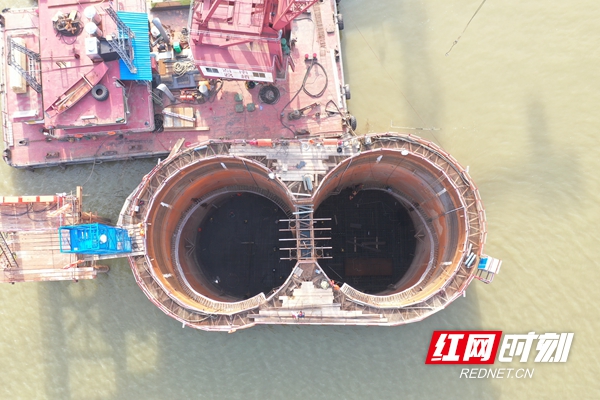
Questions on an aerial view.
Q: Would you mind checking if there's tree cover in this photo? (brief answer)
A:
No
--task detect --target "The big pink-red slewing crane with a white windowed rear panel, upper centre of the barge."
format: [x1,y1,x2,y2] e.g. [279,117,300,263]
[188,0,314,85]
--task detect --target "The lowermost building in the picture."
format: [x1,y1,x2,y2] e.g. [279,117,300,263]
[473,257,500,286]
